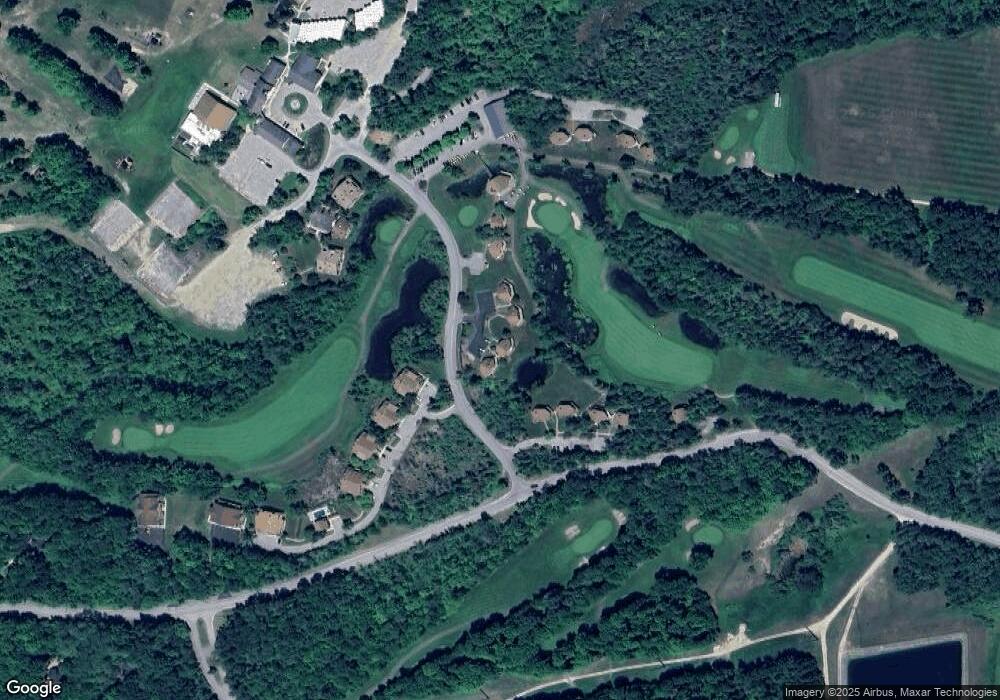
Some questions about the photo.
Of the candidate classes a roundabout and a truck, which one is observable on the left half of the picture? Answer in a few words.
roundabout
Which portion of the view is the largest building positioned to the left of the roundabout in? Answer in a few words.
top left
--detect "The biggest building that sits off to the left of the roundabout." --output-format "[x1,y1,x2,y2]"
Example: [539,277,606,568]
[172,83,239,157]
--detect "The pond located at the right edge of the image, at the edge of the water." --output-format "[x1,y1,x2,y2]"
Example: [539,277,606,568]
[838,633,969,700]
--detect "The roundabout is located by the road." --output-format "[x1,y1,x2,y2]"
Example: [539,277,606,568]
[264,81,343,140]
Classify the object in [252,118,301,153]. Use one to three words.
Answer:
building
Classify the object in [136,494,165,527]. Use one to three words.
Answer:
house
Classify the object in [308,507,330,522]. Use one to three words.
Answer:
swimming pool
